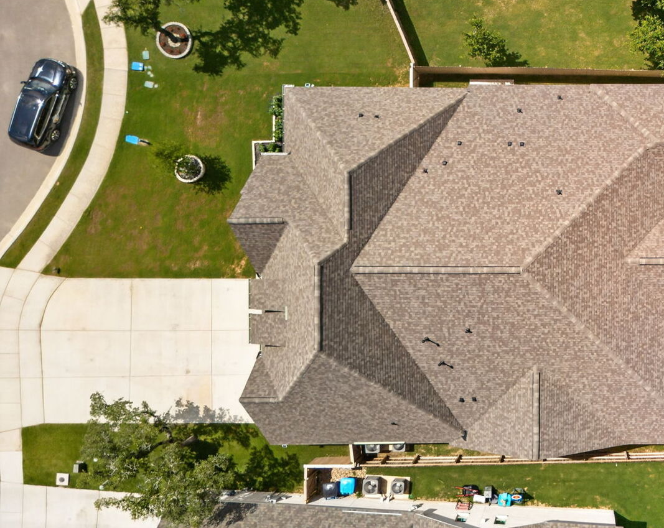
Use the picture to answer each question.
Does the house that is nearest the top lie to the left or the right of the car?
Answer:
right of it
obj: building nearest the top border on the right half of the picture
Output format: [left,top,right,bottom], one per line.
[226,82,664,460]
